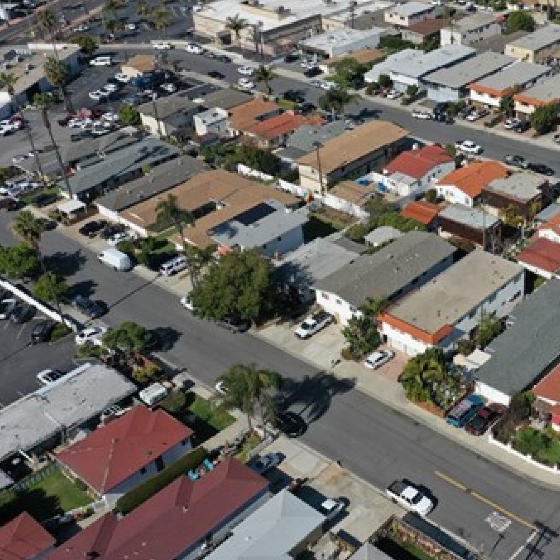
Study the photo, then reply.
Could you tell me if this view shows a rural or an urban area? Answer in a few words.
urban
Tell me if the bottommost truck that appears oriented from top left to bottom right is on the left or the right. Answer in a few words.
right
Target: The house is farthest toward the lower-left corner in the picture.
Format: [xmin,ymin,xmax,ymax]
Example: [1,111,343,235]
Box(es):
[0,510,57,560]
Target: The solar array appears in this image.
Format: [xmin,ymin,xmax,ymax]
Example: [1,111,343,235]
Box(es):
[234,205,275,225]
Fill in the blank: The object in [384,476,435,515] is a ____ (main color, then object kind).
white truck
